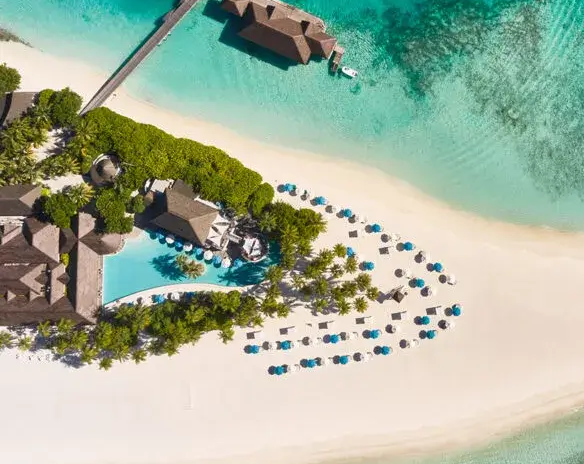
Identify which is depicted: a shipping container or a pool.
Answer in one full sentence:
Of the two, only a pool appears.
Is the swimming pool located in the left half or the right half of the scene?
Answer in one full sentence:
It is on the left.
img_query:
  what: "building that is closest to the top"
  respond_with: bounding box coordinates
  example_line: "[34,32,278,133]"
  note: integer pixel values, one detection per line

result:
[221,0,337,64]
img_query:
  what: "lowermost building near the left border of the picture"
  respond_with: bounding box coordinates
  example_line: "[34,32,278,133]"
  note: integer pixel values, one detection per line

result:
[0,212,122,326]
